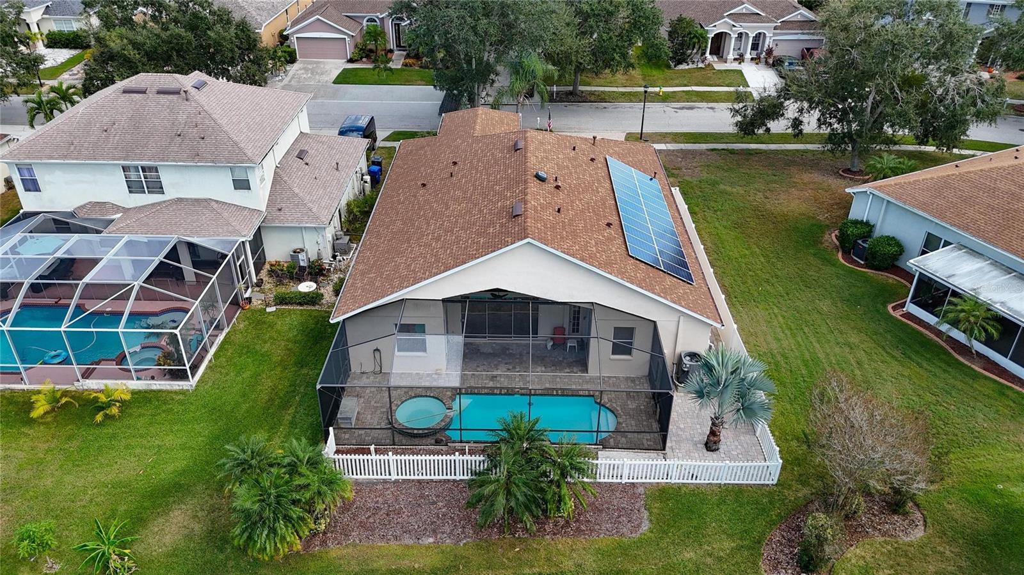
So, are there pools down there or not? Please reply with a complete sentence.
Yes, a pool appears in the view.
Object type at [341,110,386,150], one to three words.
car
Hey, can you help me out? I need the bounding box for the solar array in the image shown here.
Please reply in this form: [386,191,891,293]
[607,153,699,282]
